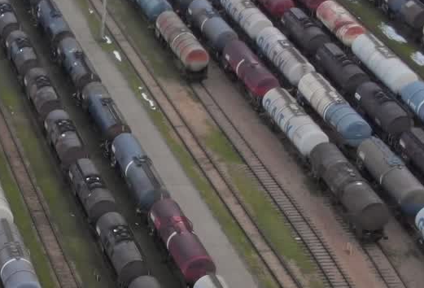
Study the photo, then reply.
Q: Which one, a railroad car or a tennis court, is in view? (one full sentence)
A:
I can see a railroad car in this picture.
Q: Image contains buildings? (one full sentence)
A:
No, the picture doesn't show any building.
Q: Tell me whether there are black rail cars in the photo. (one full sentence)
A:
Yes, there's a black rail car down there.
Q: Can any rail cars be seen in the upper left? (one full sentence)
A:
Yes, in the upper left there is a rail car.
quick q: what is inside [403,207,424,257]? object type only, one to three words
rail car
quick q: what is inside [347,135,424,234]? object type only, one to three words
rail car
